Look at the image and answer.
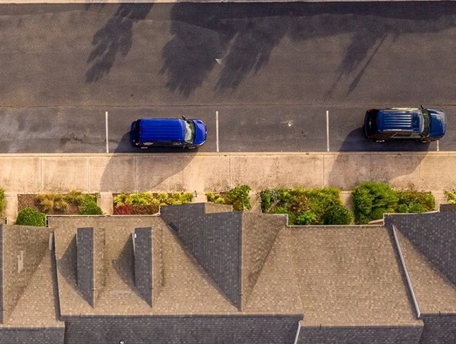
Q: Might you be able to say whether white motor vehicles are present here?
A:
No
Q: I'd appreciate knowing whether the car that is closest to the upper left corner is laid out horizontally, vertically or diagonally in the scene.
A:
horizontally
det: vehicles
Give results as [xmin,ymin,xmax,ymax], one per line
[362,105,446,144]
[130,114,207,151]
